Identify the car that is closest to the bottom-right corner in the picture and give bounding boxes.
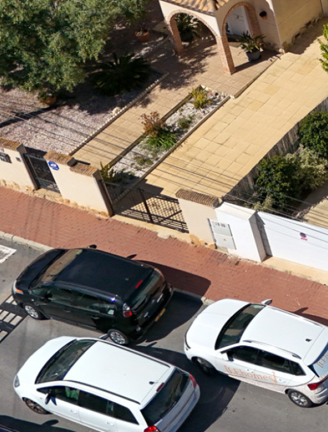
[183,297,328,412]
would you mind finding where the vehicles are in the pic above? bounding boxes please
[10,243,185,351]
[13,333,205,432]
[183,297,328,412]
